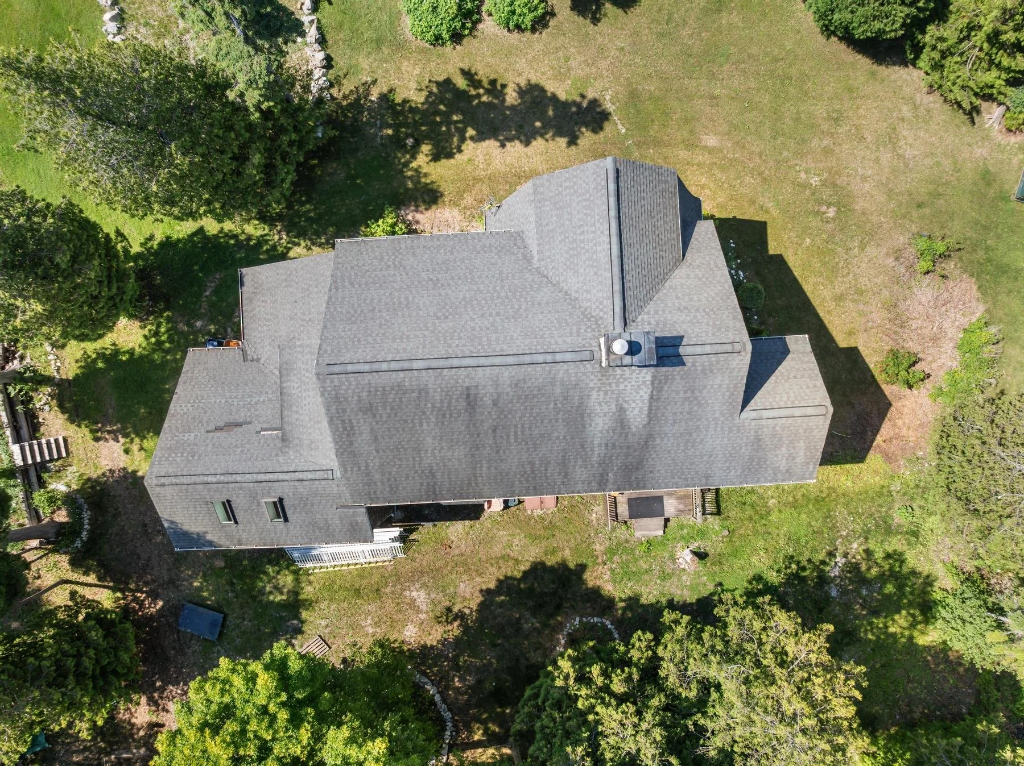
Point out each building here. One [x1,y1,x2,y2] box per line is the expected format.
[145,155,833,551]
